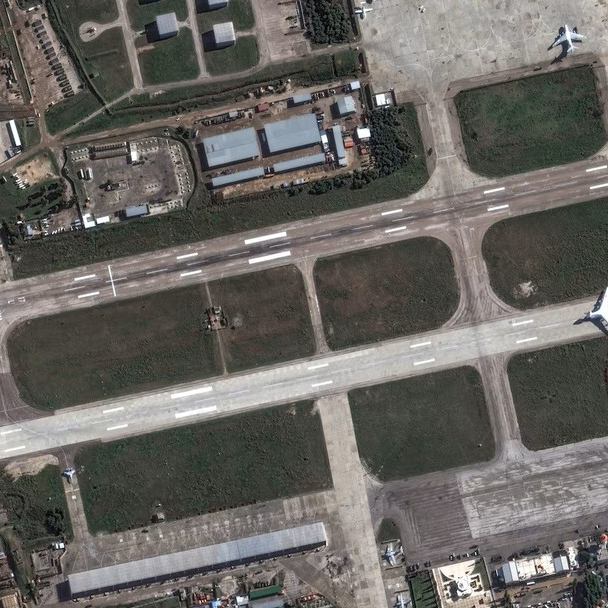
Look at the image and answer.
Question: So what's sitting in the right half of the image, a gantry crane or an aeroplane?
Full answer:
There is an aeroplane in the right half of the image.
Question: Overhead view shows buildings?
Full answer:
Yes, the image includes a building.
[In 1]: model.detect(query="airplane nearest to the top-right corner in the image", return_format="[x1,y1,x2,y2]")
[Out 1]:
[554,25,588,55]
